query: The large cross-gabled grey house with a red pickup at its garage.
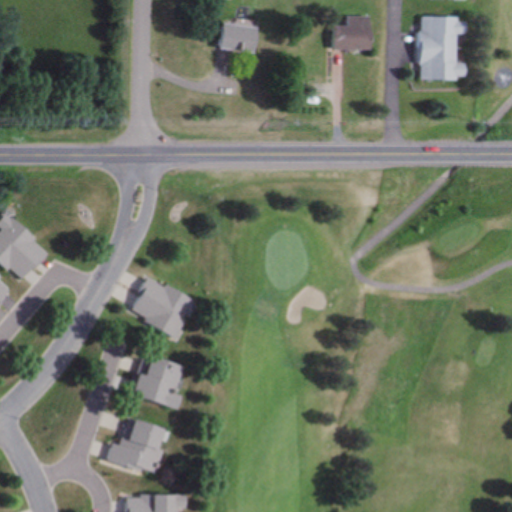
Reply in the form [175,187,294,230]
[0,214,48,278]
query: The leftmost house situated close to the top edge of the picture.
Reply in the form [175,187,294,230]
[220,6,258,54]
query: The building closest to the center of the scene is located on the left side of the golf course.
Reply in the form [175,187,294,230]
[132,274,192,342]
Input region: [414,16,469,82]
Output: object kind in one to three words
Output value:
house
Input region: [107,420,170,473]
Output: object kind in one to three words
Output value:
house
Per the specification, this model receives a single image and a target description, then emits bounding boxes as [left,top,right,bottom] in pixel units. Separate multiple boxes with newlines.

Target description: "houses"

[127,494,151,512]
[333,16,375,56]
[137,360,182,409]
[107,420,170,473]
[154,494,187,512]
[0,274,10,302]
[414,16,469,82]
[220,6,258,54]
[132,274,192,342]
[0,214,48,278]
